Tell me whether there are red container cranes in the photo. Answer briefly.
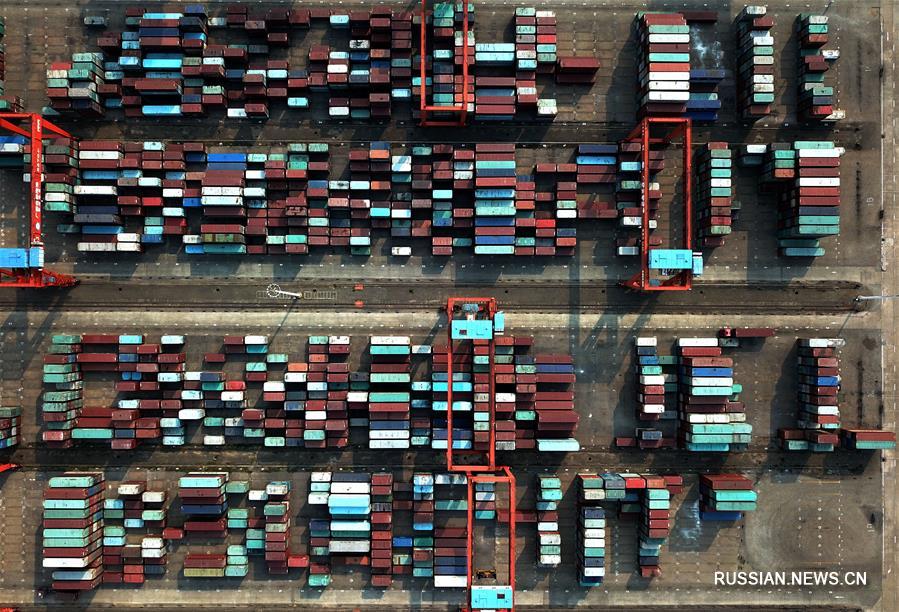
Yes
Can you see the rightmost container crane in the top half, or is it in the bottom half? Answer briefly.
top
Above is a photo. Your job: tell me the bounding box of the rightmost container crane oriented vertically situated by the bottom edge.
[461,464,518,612]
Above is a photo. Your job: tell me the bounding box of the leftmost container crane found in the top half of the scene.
[0,115,86,288]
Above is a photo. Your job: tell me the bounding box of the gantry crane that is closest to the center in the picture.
[442,298,505,471]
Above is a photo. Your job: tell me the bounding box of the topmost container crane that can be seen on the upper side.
[421,0,470,126]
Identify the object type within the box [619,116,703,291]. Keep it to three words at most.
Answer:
container crane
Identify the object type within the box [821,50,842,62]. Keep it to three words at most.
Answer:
vehicle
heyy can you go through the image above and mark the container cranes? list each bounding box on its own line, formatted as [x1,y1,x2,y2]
[461,464,518,612]
[442,298,505,471]
[421,0,470,126]
[619,116,703,291]
[0,115,86,288]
